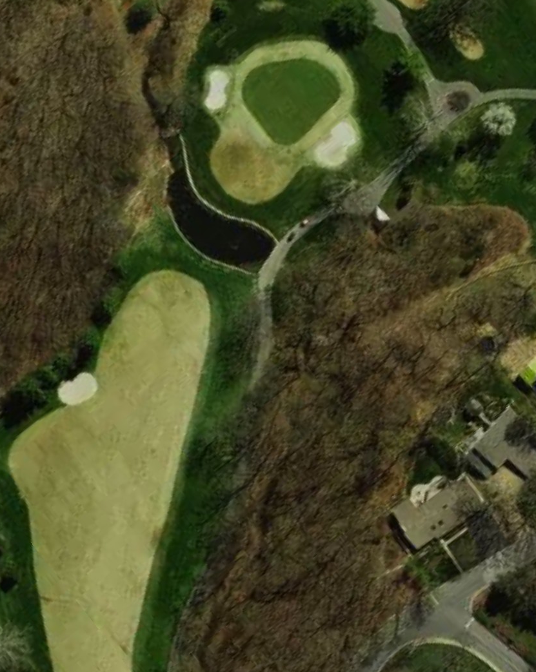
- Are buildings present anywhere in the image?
Yes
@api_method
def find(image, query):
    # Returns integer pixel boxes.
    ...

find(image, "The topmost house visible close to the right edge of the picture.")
[465,407,536,482]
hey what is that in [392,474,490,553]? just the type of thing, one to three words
house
